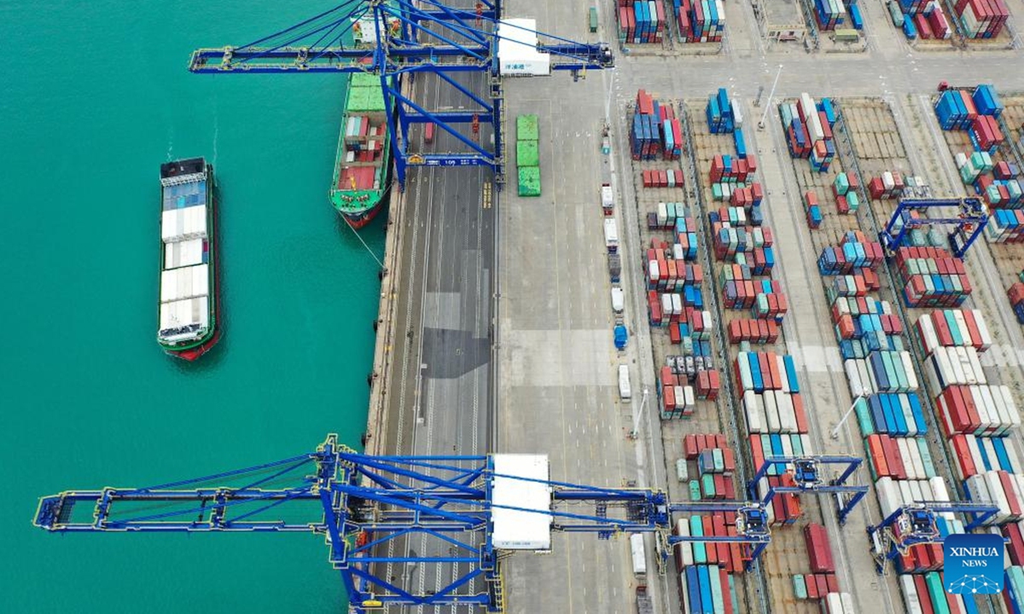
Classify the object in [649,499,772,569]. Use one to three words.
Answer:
container crane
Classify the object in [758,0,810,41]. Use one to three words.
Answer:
building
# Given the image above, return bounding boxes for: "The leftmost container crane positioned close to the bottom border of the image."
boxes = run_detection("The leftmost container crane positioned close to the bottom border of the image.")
[35,414,671,614]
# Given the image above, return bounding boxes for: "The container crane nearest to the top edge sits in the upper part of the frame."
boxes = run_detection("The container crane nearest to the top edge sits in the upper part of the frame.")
[409,0,507,36]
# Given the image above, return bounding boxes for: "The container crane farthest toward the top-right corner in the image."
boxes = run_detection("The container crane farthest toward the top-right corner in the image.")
[879,194,991,260]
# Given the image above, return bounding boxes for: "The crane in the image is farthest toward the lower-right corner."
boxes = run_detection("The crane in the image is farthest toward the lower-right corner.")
[872,501,1015,570]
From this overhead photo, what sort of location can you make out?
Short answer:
port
